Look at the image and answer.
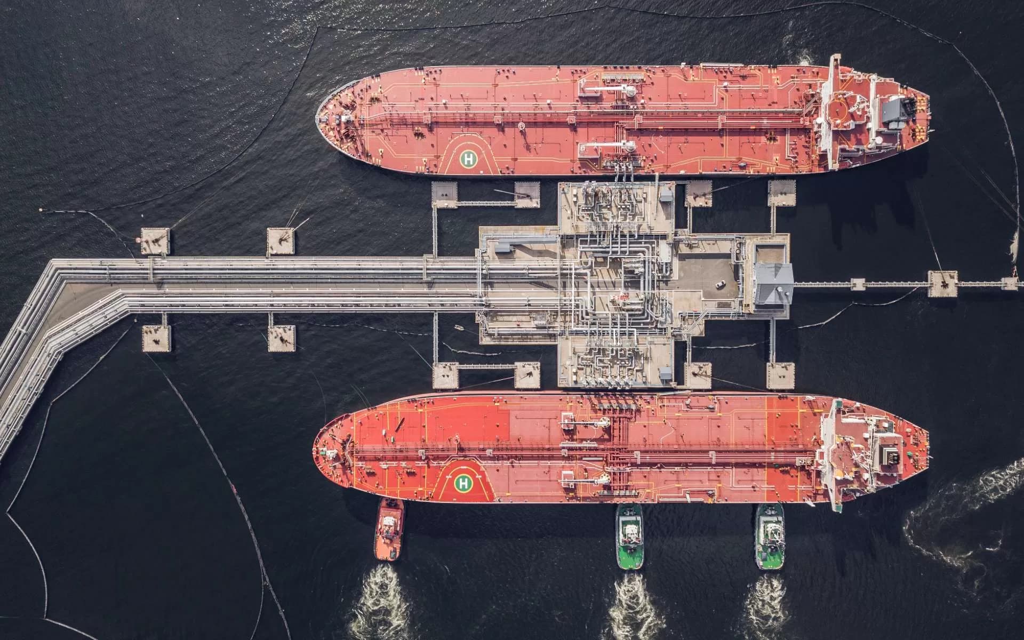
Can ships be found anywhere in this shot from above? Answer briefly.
Yes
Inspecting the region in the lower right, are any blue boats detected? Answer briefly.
No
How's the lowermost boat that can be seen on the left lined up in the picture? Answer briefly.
vertically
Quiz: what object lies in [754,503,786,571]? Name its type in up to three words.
boat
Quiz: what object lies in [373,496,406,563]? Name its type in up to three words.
boat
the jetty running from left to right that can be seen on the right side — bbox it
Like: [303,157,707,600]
[475,226,790,346]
